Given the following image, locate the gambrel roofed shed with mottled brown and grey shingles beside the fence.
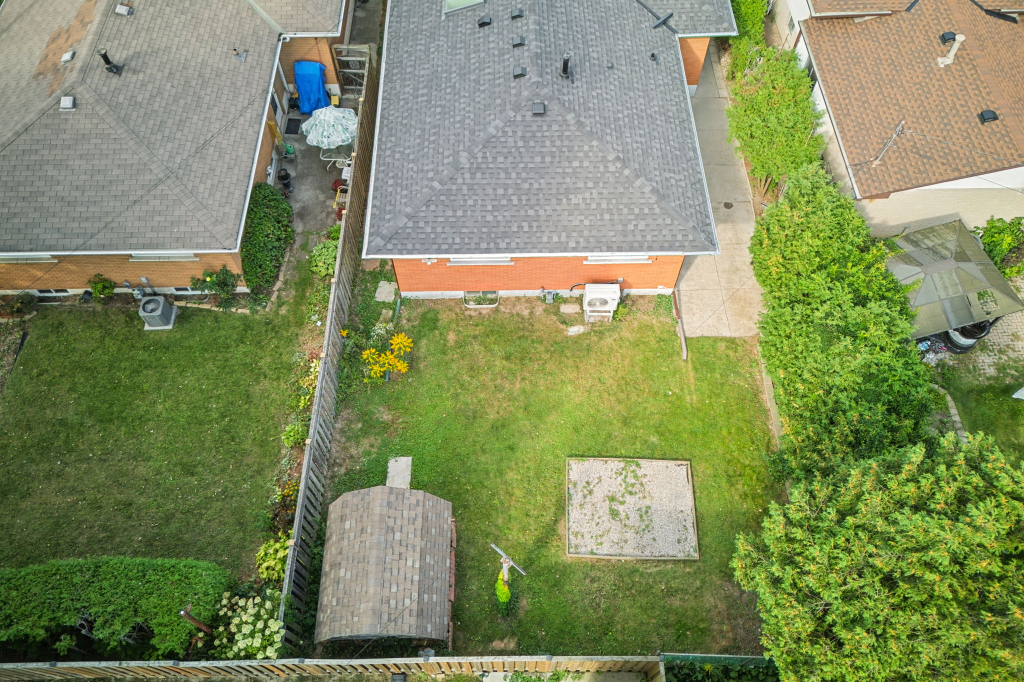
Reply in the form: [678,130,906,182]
[315,488,453,646]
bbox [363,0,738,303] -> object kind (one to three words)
house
